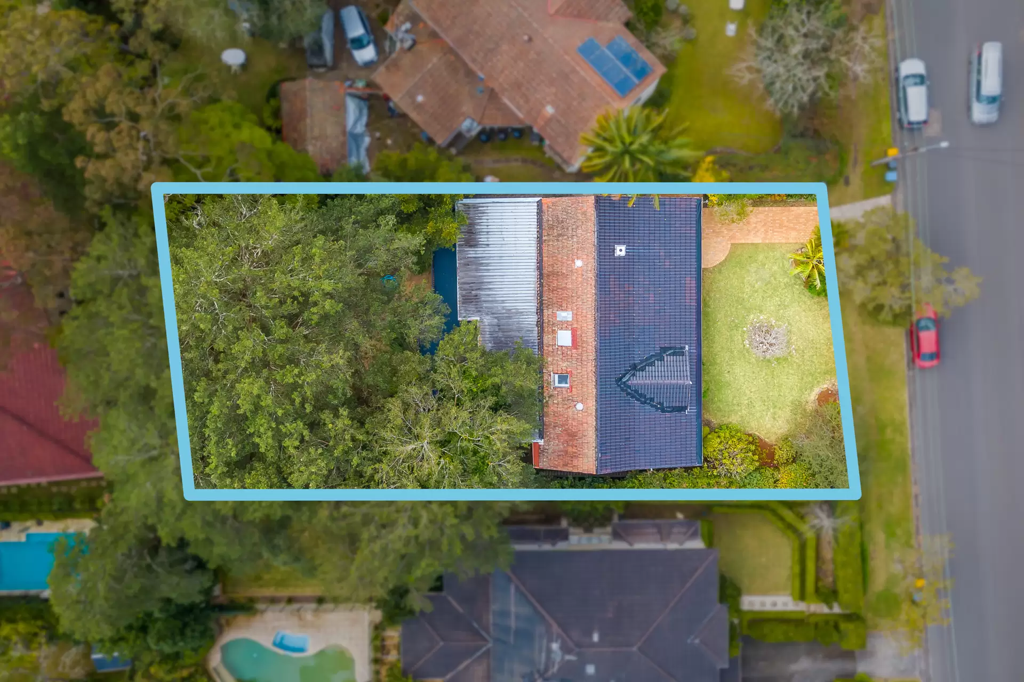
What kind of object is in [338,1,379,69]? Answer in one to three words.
car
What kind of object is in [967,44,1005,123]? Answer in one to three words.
car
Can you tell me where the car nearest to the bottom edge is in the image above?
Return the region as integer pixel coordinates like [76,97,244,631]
[909,307,942,369]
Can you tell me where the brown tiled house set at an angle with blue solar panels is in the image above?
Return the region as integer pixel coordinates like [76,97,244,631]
[371,0,668,166]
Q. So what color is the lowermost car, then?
red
